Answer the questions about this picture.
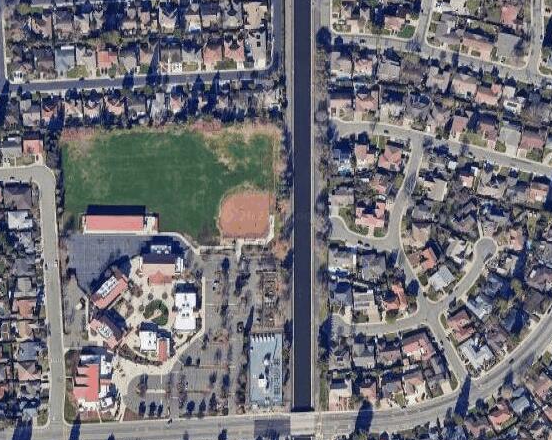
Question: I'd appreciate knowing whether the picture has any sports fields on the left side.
Yes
